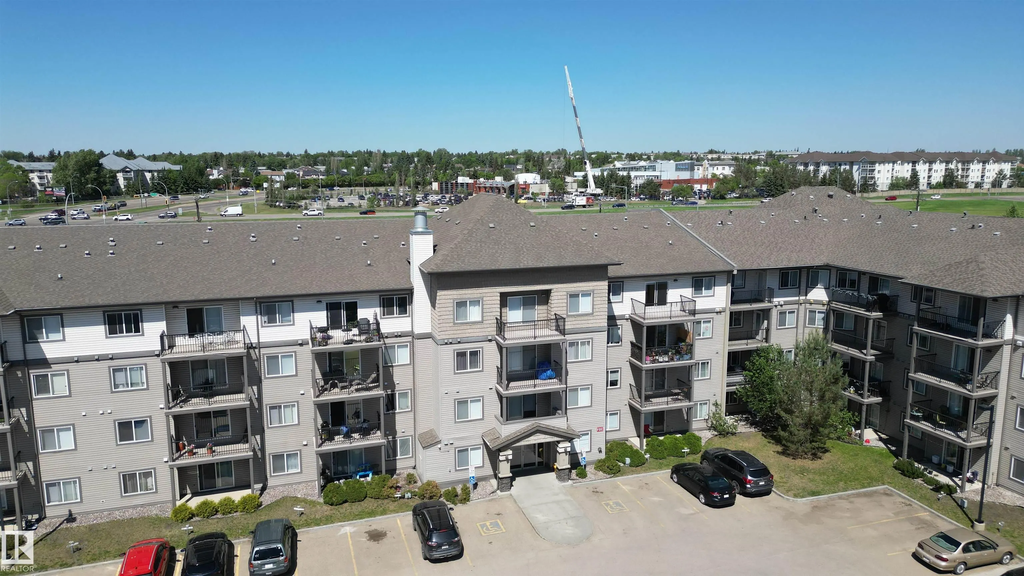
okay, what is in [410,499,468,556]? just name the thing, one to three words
car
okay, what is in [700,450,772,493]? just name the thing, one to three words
car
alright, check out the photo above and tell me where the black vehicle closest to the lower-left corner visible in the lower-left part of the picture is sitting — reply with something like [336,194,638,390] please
[180,532,233,576]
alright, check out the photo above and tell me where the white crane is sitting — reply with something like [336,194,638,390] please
[564,66,599,195]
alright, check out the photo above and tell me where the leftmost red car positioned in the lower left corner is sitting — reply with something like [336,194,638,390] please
[117,538,172,576]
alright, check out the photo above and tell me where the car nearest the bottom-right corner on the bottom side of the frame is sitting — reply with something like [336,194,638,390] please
[916,527,1023,576]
